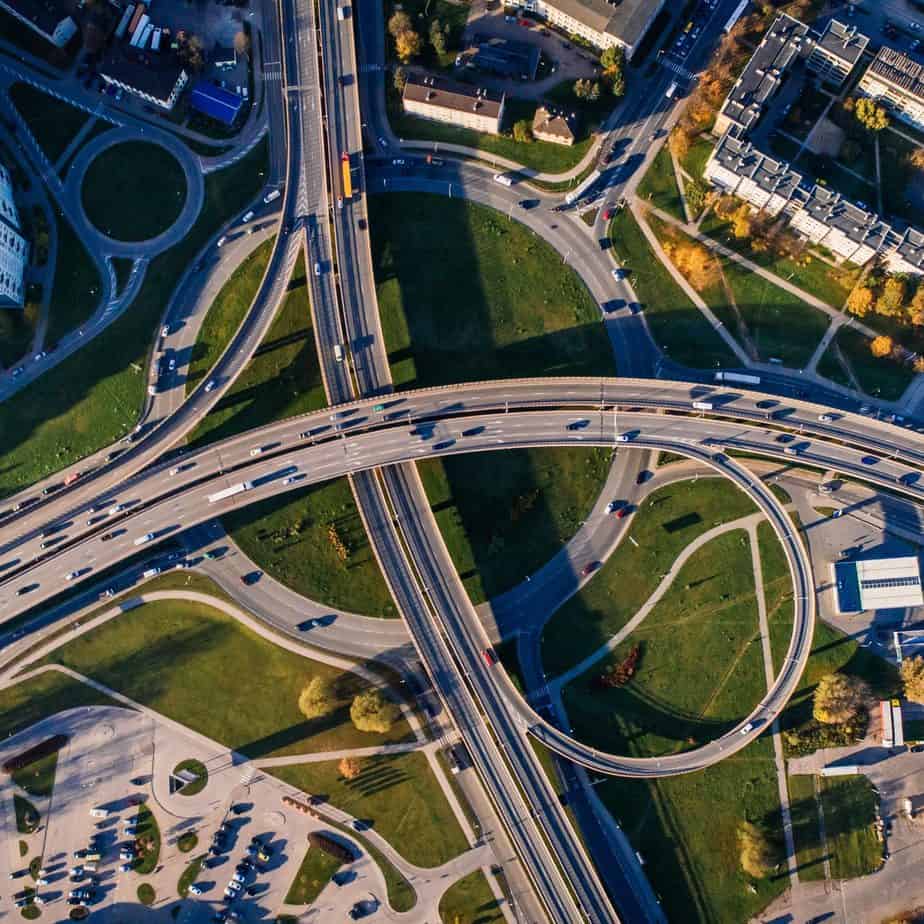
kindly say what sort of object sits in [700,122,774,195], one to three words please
building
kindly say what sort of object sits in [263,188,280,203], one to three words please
vehicle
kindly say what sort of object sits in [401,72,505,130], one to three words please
house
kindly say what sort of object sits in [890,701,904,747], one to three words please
vehicle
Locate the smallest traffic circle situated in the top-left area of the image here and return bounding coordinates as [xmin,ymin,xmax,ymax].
[64,122,204,260]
